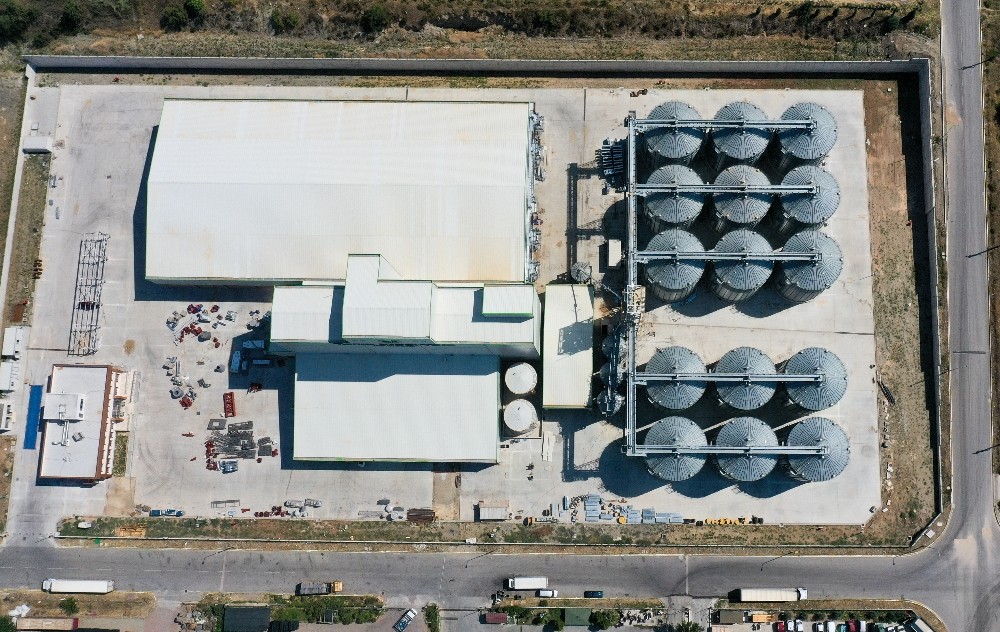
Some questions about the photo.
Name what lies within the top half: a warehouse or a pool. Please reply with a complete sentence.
Looking within the top half, you will find a warehouse.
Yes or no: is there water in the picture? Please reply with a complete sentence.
No, the scene doesn't show any water.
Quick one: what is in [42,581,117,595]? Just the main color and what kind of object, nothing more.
white vehicle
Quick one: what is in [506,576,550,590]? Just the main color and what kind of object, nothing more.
white vehicle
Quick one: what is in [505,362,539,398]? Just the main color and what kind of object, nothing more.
white storage tank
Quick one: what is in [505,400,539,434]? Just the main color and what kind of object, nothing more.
white storage tank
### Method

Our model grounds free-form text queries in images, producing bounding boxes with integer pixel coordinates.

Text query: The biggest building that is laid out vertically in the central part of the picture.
[542,283,595,410]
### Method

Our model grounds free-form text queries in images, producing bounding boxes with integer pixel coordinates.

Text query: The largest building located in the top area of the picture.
[146,99,532,288]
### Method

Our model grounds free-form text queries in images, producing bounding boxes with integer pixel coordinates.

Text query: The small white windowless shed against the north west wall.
[22,136,54,153]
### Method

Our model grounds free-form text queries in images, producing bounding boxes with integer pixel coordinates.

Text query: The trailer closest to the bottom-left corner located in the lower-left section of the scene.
[16,616,81,630]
